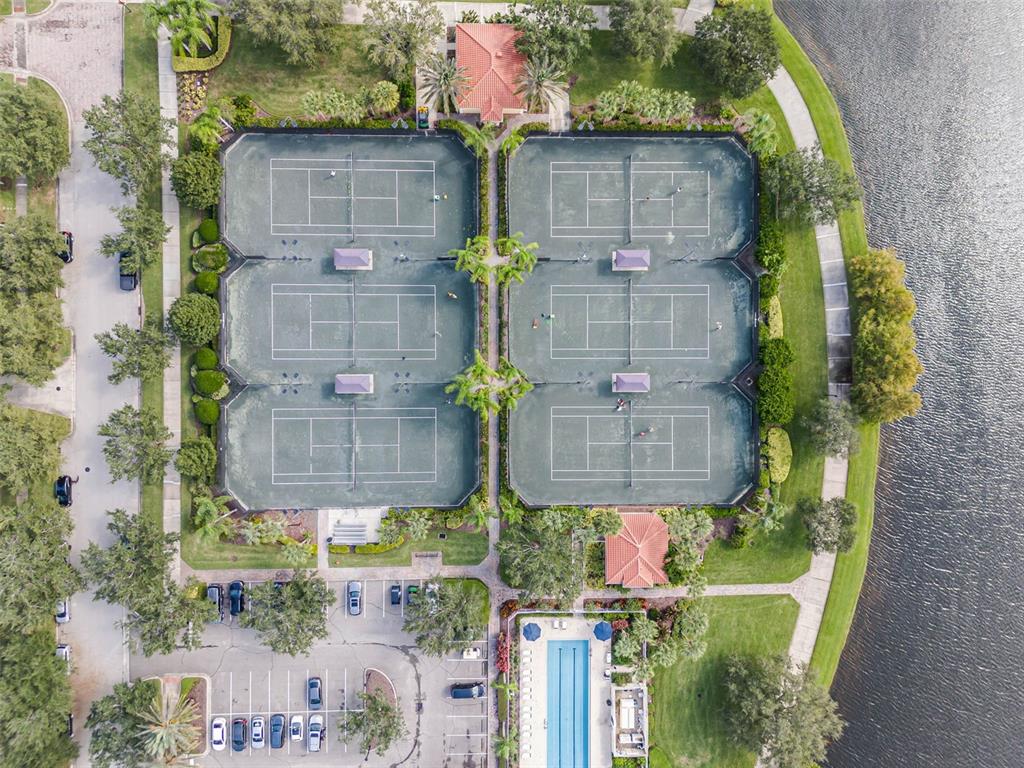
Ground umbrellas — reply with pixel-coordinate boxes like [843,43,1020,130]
[523,623,541,640]
[594,622,611,639]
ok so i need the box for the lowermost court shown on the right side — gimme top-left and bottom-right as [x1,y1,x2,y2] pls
[509,382,753,505]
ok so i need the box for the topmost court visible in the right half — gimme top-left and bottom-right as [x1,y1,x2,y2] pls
[509,137,752,260]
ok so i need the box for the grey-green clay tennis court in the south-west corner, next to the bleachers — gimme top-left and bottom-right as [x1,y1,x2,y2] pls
[227,384,477,509]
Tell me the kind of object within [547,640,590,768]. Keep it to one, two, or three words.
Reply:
swimming pool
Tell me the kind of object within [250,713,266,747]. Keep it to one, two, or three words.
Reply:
car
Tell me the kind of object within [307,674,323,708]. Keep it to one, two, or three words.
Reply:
car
